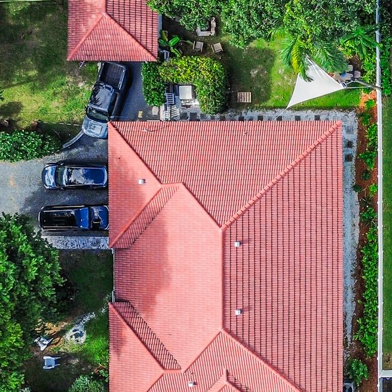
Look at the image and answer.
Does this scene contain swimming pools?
No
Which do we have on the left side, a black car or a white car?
black car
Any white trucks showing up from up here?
No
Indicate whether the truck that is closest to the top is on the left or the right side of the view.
left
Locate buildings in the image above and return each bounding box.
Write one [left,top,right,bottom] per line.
[66,0,175,63]
[105,120,343,392]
